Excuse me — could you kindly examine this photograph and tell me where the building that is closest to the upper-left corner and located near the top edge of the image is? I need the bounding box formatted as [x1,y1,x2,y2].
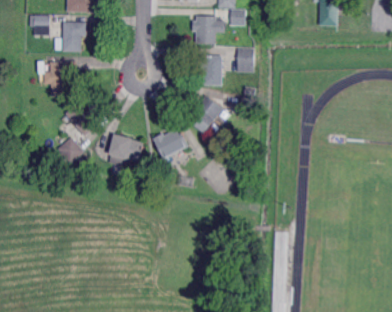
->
[29,16,48,35]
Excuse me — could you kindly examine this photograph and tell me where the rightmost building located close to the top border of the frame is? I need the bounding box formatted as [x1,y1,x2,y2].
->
[318,0,338,26]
